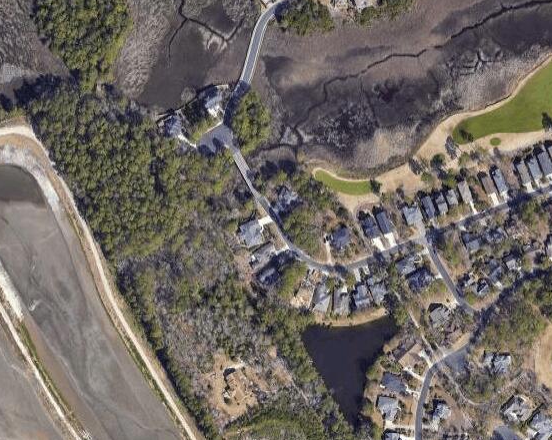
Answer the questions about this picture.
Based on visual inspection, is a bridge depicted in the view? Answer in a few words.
Yes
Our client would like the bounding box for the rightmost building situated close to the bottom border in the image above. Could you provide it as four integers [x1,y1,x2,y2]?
[531,412,552,440]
